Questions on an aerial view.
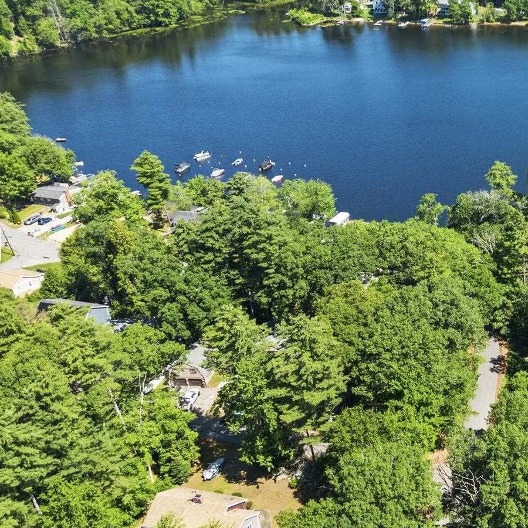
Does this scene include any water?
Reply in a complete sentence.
Yes, water shows up in the scene.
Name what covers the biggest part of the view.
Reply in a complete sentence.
What you mostly see from above here is trees.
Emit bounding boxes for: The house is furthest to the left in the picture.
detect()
[0,266,44,300]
